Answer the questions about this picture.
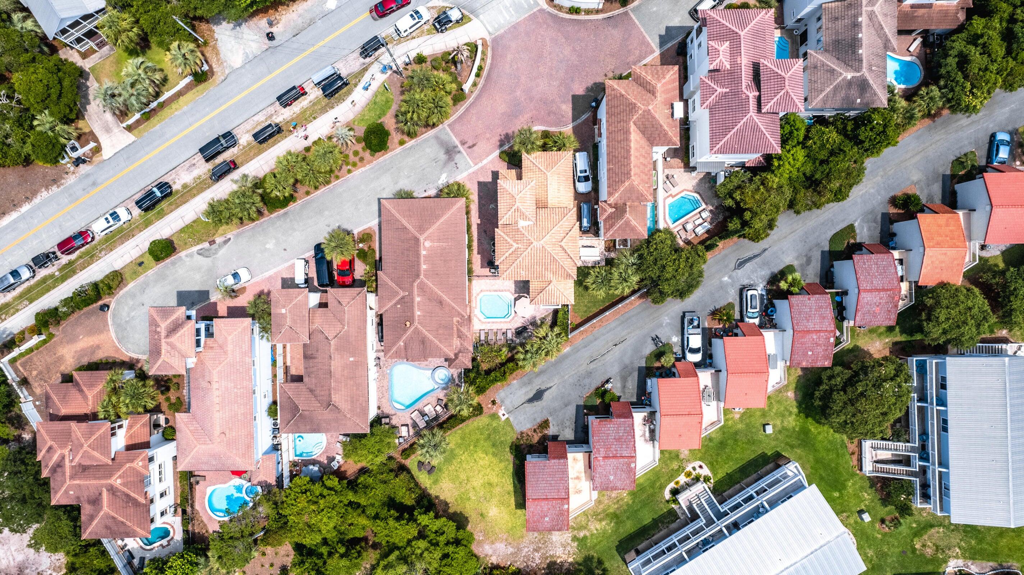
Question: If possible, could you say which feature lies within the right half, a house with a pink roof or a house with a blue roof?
house with a pink roof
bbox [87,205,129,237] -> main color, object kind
white car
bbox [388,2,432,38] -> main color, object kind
white car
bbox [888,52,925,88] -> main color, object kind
blue swimming pool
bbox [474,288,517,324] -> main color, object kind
white swimming pool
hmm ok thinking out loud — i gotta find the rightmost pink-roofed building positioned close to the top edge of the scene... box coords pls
[675,7,805,184]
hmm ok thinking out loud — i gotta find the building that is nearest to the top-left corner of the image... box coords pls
[21,0,144,67]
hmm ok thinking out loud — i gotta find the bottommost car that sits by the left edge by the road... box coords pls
[0,267,34,300]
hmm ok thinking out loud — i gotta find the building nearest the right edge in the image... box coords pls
[956,164,1024,245]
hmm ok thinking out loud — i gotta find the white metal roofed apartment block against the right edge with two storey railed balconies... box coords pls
[859,353,1024,527]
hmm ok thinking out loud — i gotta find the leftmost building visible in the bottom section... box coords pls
[35,371,176,539]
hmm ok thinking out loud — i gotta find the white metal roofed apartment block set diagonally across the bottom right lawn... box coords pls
[618,464,867,575]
